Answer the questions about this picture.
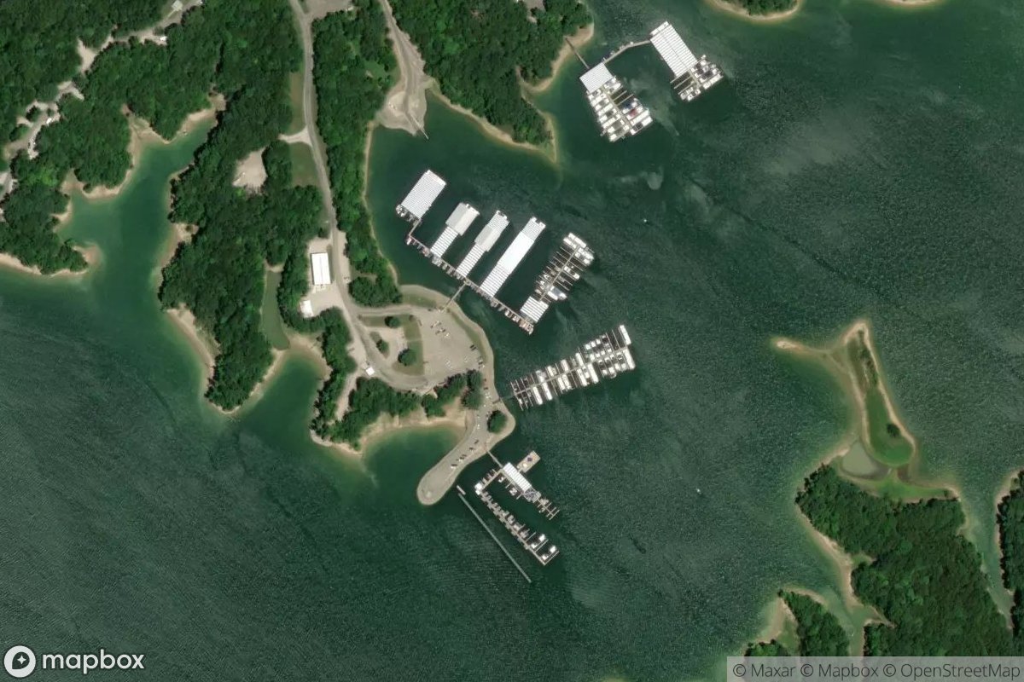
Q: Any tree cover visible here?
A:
Yes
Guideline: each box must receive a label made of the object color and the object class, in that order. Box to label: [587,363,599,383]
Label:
white boat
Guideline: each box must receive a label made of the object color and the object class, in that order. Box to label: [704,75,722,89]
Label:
white boat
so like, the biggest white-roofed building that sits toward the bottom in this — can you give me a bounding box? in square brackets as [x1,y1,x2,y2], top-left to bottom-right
[503,461,541,503]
